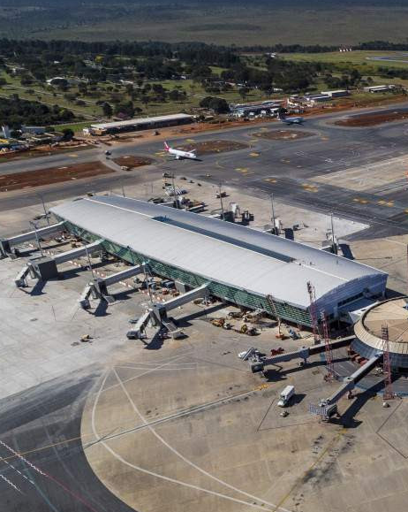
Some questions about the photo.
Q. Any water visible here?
No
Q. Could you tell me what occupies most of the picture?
paved ground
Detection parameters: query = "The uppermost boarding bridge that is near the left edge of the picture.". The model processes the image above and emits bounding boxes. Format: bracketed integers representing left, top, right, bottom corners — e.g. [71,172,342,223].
[0,222,80,261]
